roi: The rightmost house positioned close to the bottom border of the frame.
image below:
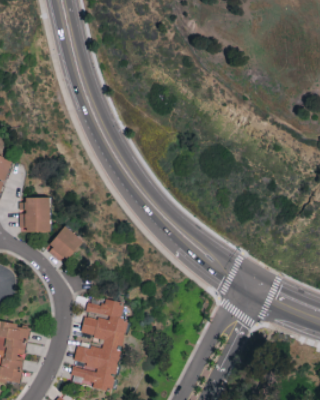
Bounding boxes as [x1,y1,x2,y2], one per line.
[70,300,128,392]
